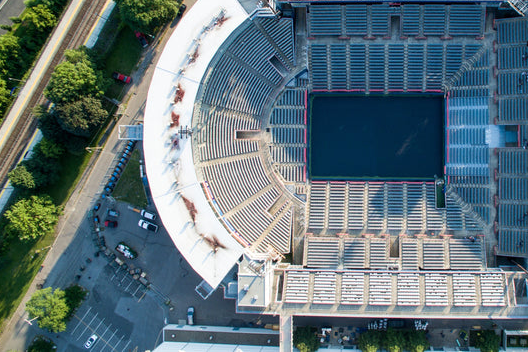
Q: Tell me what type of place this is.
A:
sports ground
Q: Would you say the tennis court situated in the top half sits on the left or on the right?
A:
right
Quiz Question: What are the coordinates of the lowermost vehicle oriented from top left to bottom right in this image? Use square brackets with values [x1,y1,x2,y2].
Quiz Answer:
[114,241,138,259]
